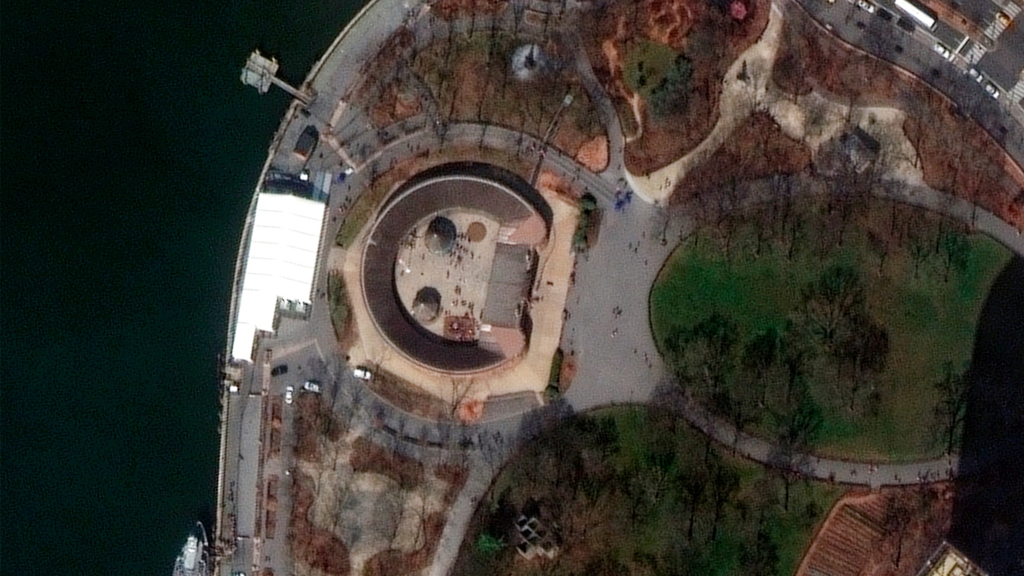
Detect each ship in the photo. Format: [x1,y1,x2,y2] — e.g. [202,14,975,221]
[173,522,215,576]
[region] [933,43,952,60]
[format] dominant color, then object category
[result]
white car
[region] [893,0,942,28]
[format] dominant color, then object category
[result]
white bus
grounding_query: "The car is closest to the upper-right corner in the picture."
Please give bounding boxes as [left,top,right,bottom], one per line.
[994,13,1011,29]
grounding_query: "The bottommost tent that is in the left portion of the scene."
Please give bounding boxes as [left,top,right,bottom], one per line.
[233,188,332,363]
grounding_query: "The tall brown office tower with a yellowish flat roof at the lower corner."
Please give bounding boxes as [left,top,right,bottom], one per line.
[914,459,1024,576]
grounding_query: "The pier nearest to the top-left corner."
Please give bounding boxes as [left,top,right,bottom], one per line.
[238,50,279,100]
